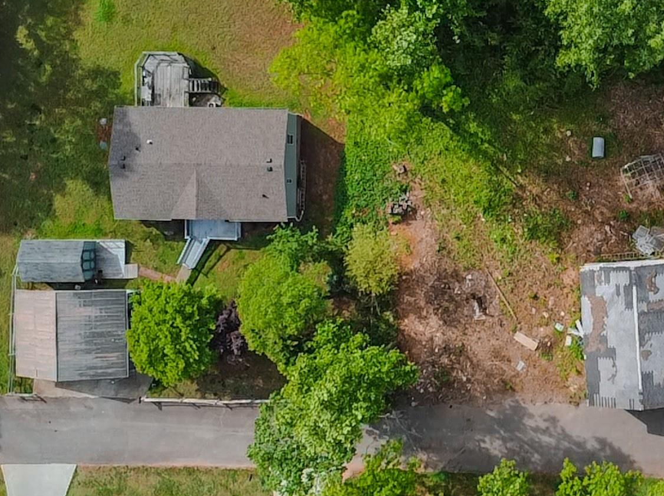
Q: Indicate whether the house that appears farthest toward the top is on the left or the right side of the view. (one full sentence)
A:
The house that appears farthest toward the top appears in the left half of the scene.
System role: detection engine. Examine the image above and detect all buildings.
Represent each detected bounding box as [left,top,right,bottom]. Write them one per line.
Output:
[579,261,664,416]
[106,106,301,222]
[12,241,104,282]
[14,289,147,385]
